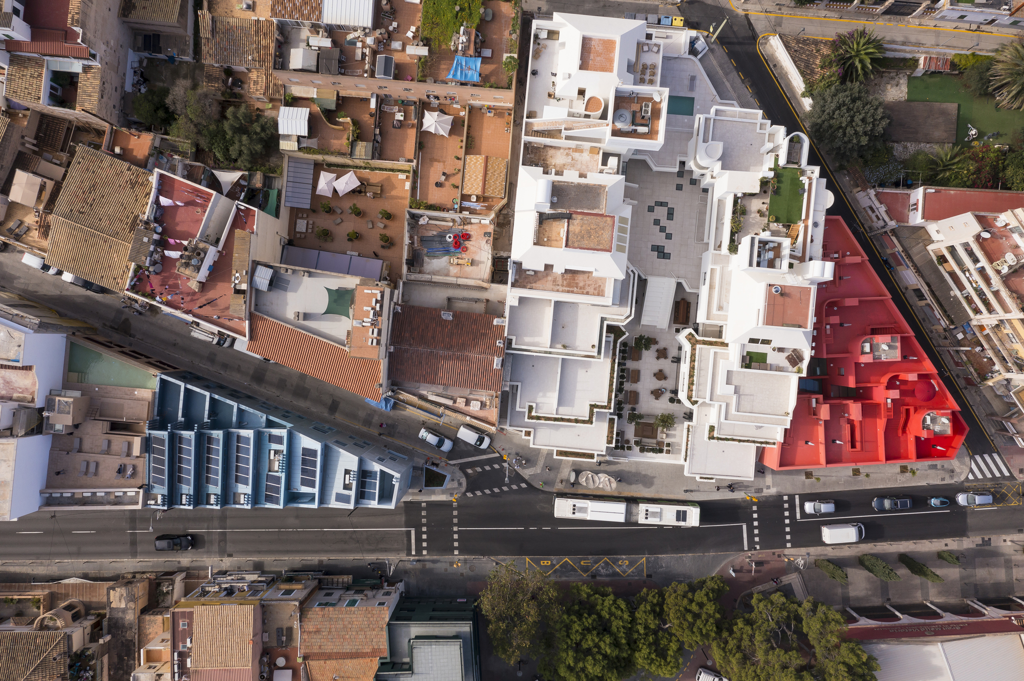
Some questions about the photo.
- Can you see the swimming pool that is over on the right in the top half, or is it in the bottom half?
top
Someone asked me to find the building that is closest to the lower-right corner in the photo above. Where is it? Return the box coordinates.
[812,594,1024,681]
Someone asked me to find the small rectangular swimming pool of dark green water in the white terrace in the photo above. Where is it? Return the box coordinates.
[667,95,695,116]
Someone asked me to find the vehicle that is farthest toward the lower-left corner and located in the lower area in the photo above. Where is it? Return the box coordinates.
[152,535,193,554]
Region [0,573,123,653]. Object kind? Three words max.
house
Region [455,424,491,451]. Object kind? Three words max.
vehicle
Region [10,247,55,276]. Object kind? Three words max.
van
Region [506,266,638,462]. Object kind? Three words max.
building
